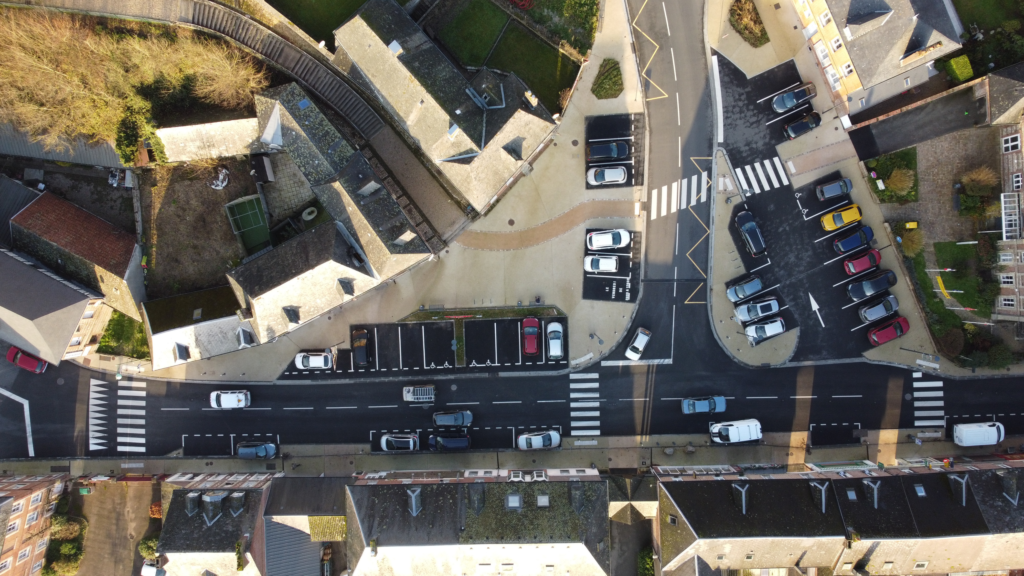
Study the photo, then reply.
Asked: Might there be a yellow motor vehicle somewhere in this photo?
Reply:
Yes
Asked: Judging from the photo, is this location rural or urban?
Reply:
urban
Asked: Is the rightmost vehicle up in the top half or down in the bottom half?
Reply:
bottom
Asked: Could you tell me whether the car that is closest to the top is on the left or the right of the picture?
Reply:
right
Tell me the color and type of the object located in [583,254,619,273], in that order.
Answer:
white car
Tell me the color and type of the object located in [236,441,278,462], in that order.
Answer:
blue car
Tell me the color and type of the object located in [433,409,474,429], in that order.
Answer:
blue car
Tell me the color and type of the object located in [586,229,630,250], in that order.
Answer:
white car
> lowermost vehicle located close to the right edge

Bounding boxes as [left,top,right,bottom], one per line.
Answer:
[946,422,1000,446]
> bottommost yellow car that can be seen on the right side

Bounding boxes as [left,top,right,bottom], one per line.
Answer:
[817,202,865,231]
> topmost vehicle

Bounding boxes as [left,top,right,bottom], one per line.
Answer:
[770,81,819,114]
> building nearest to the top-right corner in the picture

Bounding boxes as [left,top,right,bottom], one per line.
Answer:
[973,64,1024,128]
